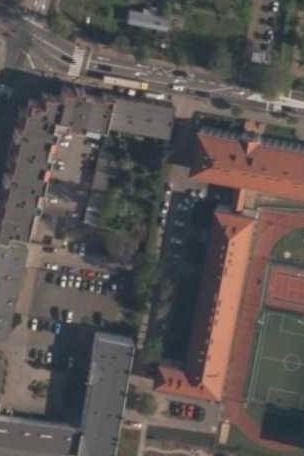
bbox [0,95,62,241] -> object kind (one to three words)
building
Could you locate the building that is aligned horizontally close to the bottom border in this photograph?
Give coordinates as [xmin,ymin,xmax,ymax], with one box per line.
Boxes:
[0,414,78,454]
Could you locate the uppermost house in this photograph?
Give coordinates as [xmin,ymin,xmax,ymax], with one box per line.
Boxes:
[128,7,170,31]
